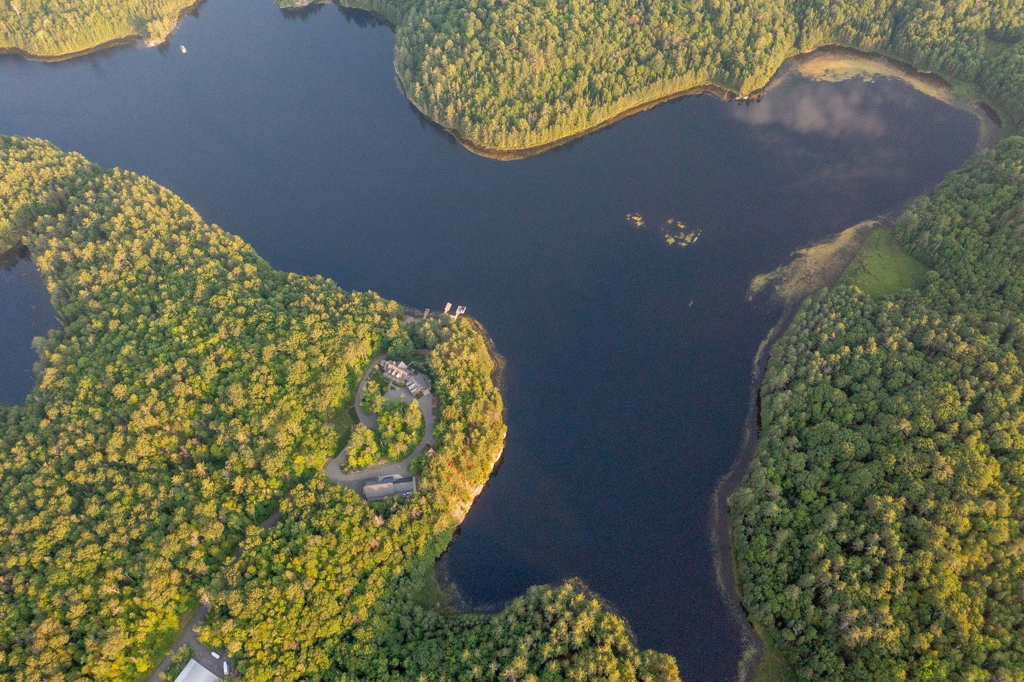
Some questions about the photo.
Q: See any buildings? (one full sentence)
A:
Yes, there is a building in the image.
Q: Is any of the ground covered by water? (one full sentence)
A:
Yes, there is water in the image.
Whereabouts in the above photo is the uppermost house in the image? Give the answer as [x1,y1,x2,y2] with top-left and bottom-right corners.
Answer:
[378,362,430,400]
